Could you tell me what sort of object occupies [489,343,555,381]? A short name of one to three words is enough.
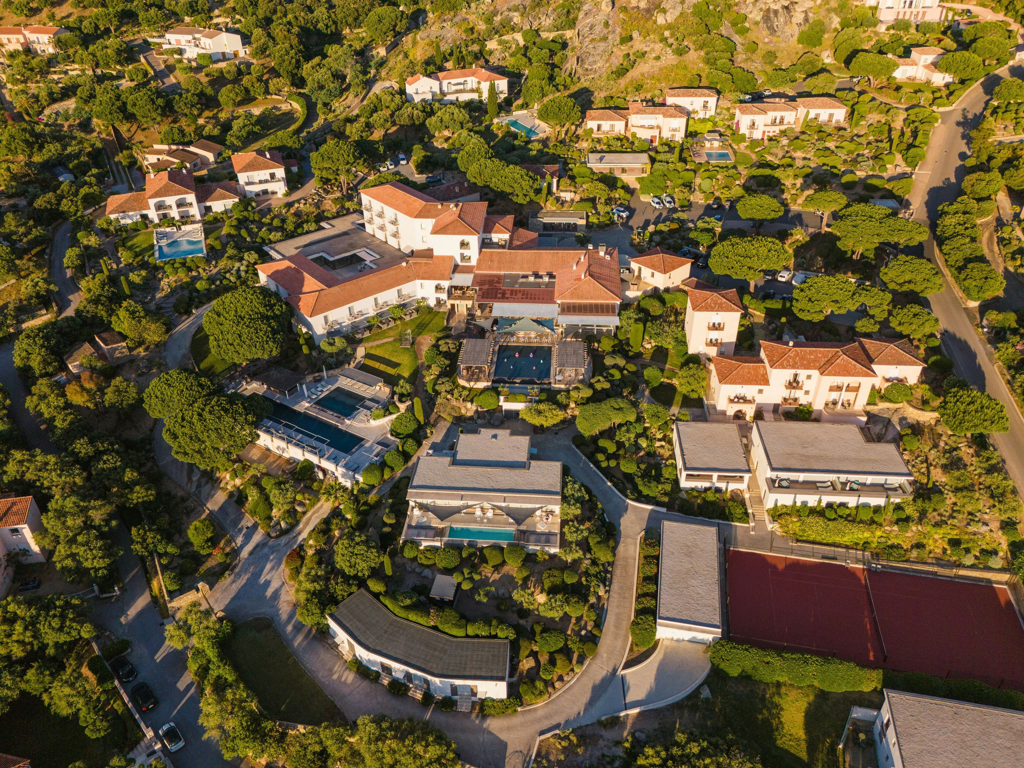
swimming pool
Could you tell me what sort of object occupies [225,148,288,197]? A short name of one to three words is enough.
house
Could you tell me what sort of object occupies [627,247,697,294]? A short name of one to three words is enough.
building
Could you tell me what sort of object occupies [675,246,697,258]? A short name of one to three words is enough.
vehicle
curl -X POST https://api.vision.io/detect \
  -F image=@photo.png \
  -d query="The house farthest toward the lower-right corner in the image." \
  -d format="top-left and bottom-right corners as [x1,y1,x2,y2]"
[876,688,1024,768]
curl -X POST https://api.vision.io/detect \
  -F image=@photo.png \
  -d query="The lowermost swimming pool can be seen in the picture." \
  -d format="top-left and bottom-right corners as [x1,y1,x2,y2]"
[444,523,518,544]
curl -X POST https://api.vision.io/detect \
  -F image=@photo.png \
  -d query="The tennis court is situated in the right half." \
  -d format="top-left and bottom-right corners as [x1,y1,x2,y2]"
[726,550,1024,677]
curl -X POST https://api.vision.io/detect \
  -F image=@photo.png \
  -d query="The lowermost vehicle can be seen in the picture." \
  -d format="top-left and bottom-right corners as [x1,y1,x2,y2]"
[159,719,186,755]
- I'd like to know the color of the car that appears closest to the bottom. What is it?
black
